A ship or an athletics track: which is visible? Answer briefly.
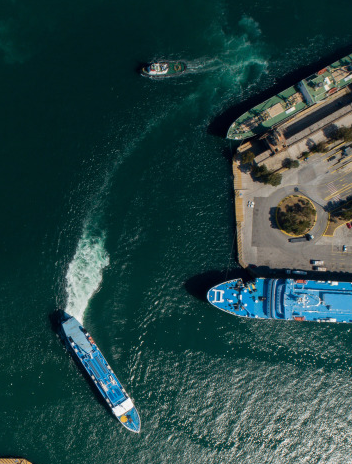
ship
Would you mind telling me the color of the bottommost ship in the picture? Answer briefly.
blue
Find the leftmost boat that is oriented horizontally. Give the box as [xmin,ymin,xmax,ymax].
[140,61,187,77]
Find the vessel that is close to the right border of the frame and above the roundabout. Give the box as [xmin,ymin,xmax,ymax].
[227,53,352,139]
